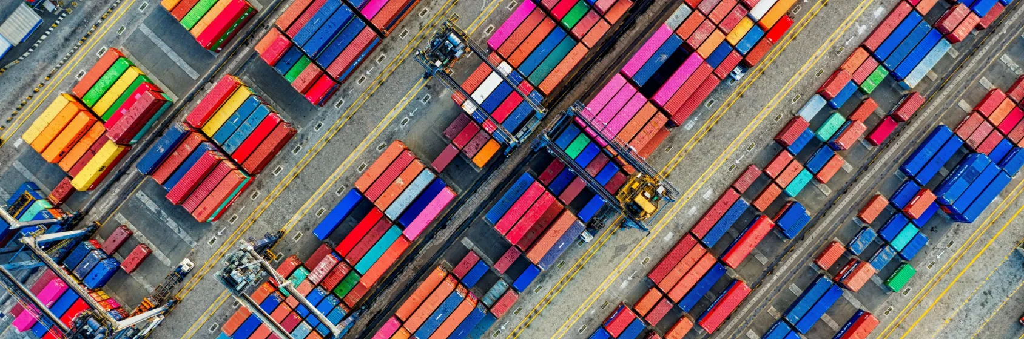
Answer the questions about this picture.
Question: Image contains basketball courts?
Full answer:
No, the picture doesn't show any basketball court.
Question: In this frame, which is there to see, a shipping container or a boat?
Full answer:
I can see a shipping container in this picture.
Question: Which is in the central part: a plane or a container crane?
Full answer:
The feature located in the central part is a container crane.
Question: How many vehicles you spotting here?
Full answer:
Altogether the scene contains 3 vehicles.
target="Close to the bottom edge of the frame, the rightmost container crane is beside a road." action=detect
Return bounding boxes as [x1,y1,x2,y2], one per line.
[207,226,369,339]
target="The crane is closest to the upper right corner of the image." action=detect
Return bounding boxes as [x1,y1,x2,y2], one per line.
[529,96,680,241]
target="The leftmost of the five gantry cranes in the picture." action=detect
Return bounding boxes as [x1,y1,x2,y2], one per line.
[0,199,88,253]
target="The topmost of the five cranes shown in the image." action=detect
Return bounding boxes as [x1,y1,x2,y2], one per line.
[408,1,552,153]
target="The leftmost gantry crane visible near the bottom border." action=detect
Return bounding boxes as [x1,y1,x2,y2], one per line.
[0,222,180,339]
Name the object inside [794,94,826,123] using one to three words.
shipping container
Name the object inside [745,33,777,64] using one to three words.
shipping container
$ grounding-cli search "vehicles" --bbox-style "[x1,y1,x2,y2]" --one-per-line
[726,50,754,85]
[148,256,196,306]
[576,206,616,248]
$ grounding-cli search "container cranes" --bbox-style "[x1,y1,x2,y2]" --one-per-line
[207,226,369,339]
[408,1,552,153]
[0,222,180,339]
[529,96,680,241]
[0,199,88,253]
